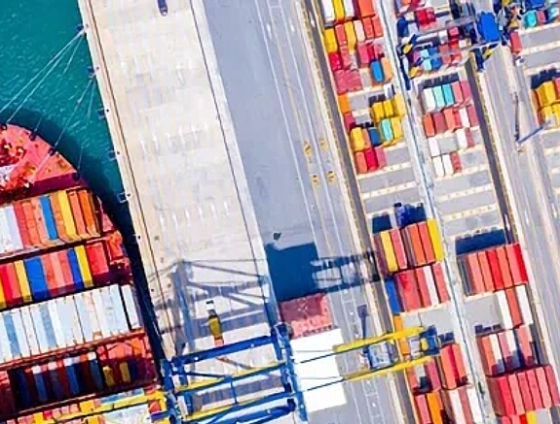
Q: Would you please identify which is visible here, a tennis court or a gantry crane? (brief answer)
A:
gantry crane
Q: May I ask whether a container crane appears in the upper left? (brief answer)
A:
No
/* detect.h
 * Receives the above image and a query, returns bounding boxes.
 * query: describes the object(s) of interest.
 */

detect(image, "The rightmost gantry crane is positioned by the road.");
[495,0,560,45]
